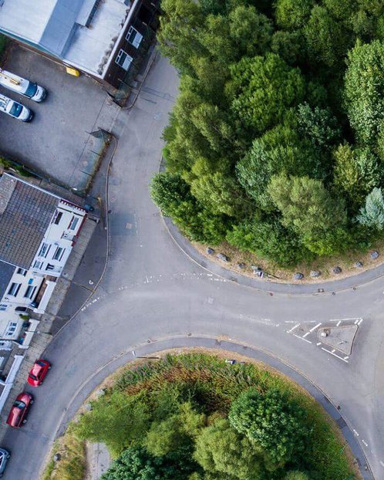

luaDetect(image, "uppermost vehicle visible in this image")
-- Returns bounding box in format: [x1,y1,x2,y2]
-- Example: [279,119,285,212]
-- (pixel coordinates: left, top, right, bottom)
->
[0,66,48,103]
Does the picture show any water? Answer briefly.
No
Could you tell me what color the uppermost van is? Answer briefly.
white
